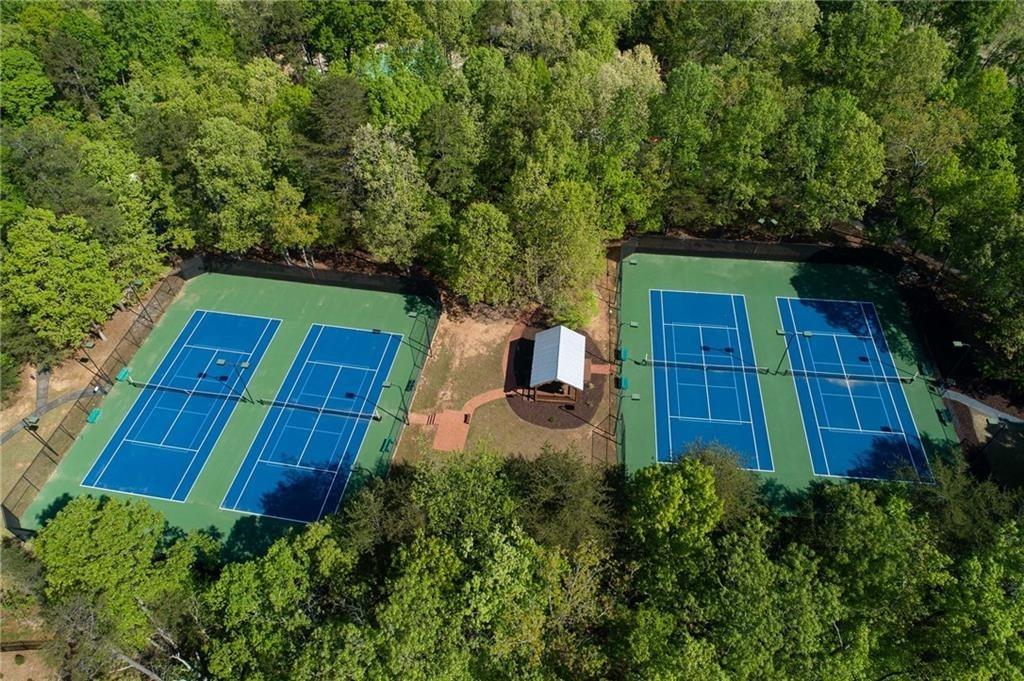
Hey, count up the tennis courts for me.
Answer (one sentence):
The photo contains 4 tennis courts.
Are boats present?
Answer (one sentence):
No, I can see no boat in this picture.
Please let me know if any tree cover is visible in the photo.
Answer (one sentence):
Yes, the picture does contain tree cover.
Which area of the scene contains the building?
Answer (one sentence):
Look in the center portion of the view to spot the building.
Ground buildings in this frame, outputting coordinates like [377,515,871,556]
[530,325,585,405]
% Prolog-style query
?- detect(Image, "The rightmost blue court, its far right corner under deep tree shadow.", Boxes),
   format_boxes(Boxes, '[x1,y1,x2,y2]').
[753,260,984,533]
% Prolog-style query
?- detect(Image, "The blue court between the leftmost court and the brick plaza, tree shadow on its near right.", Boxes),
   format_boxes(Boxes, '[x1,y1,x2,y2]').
[188,285,443,594]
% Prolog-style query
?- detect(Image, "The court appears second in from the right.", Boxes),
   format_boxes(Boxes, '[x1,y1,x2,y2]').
[620,255,798,530]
